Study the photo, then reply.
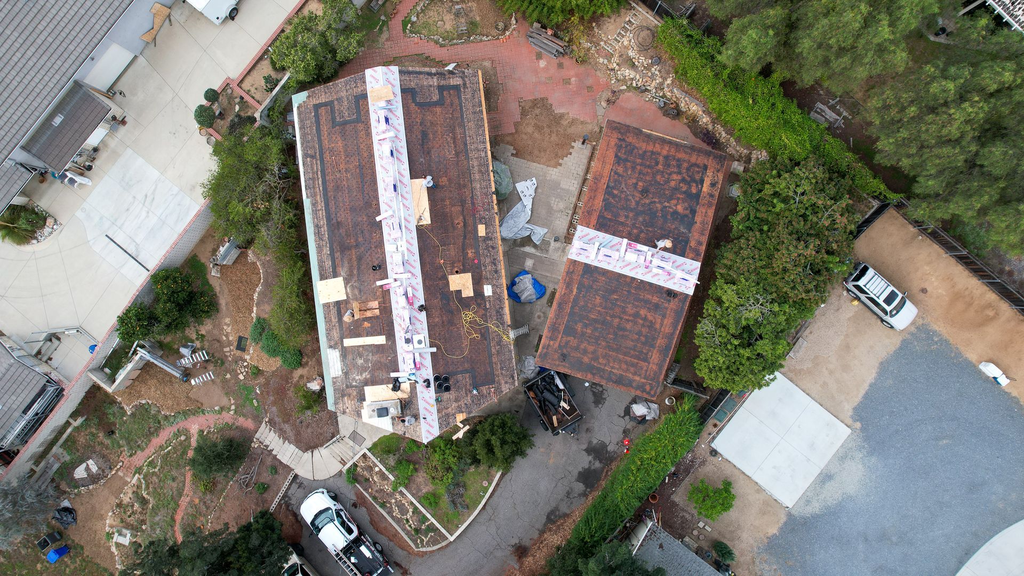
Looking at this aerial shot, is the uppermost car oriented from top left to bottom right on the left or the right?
right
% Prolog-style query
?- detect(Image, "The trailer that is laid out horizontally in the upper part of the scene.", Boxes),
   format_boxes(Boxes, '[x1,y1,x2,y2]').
[185,0,247,26]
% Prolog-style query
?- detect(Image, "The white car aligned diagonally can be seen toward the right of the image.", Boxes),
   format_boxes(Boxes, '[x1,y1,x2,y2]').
[843,265,919,332]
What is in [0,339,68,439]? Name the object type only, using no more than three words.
house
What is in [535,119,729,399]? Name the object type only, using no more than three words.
building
